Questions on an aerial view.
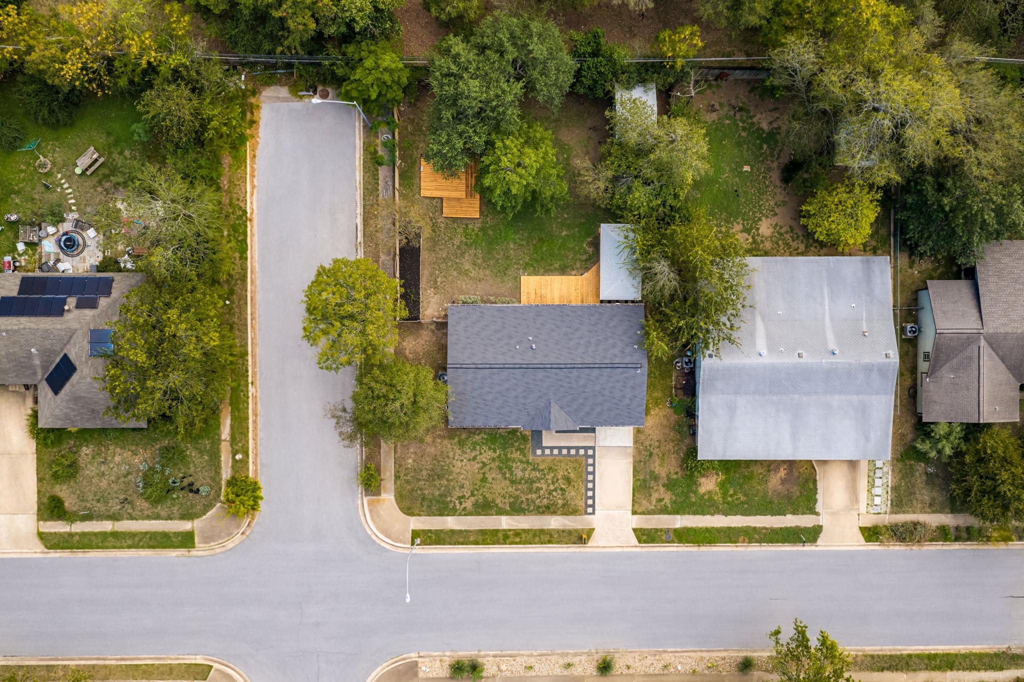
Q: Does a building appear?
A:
Yes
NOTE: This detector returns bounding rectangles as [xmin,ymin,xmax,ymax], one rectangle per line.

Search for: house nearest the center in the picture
[447,303,648,432]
